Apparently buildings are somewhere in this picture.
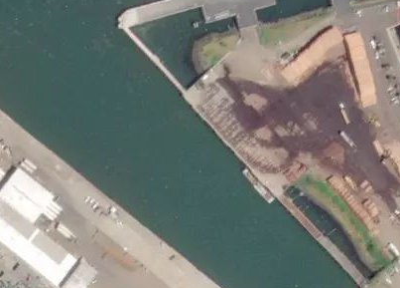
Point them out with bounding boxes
[62,259,98,288]
[0,218,78,286]
[0,168,55,223]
